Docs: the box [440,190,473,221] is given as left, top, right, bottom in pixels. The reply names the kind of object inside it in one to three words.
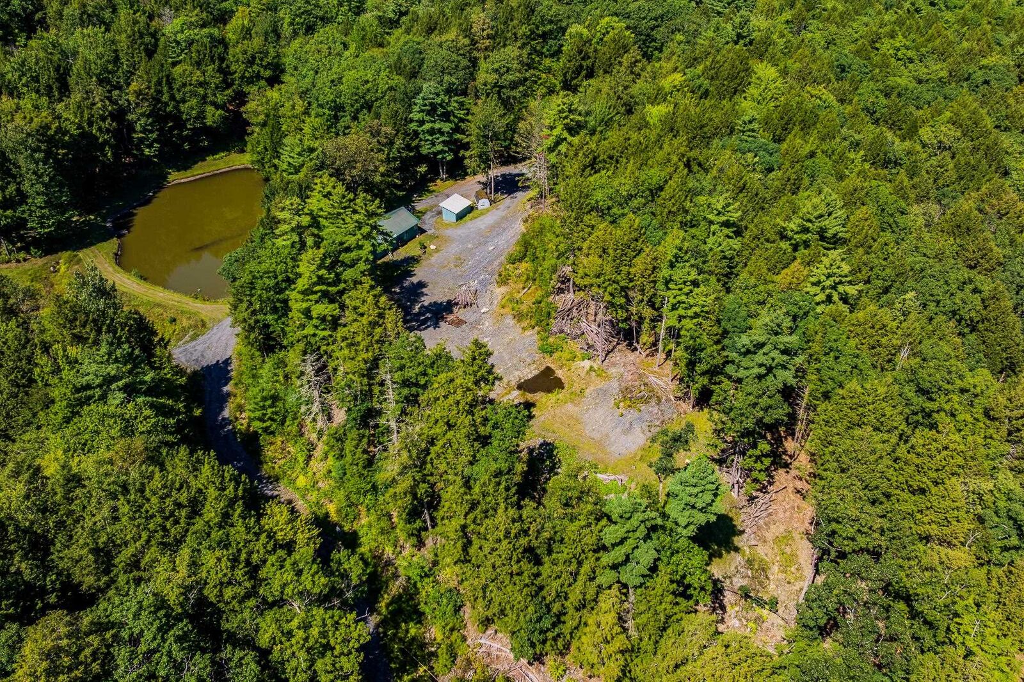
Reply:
shed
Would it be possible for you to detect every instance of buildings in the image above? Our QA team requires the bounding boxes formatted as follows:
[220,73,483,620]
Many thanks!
[440,190,473,221]
[372,201,422,253]
[474,189,490,209]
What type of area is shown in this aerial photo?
forest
